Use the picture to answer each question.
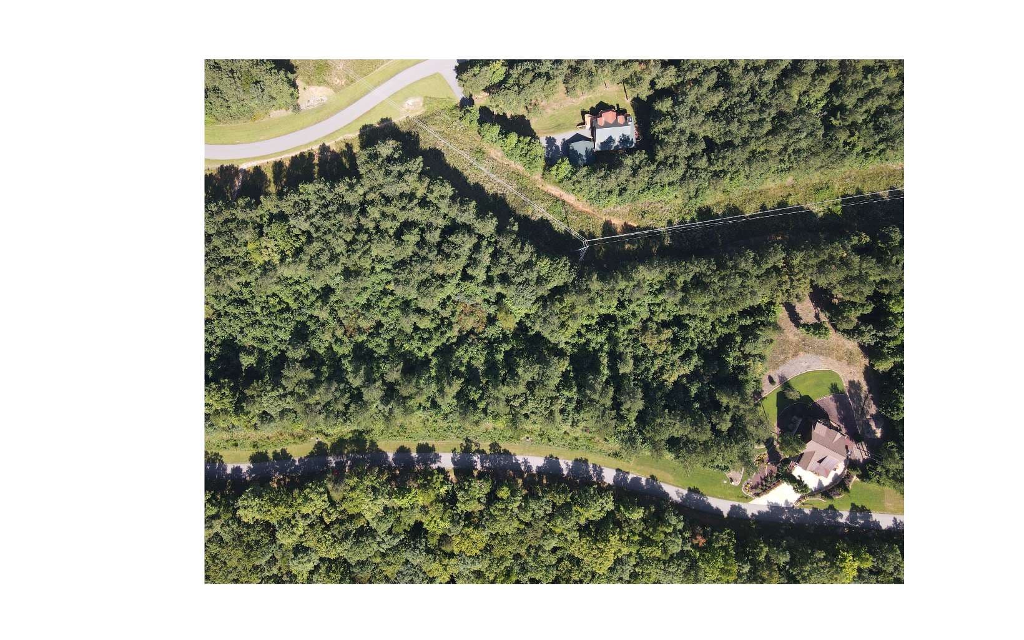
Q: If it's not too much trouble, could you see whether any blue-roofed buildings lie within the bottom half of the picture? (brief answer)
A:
No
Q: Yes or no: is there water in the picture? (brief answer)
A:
No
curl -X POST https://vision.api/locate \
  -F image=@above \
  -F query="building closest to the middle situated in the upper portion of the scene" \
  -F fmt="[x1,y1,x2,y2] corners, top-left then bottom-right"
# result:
[570,138,594,168]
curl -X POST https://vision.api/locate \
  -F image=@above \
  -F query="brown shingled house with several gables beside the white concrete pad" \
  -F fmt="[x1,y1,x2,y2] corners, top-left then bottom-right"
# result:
[773,412,853,481]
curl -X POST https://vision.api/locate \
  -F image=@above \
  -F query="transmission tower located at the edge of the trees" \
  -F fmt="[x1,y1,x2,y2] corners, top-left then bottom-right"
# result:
[572,240,590,268]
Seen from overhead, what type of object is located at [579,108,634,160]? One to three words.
house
